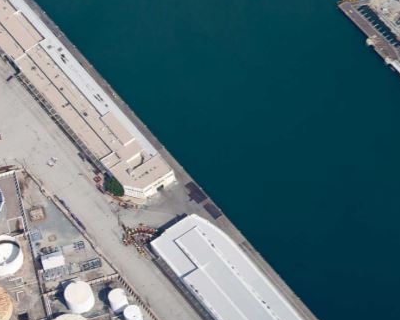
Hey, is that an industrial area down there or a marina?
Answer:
industrial area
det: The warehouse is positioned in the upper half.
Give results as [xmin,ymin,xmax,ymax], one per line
[0,0,175,200]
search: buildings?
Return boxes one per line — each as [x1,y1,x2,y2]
[41,252,67,273]
[0,0,175,200]
[148,215,302,320]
